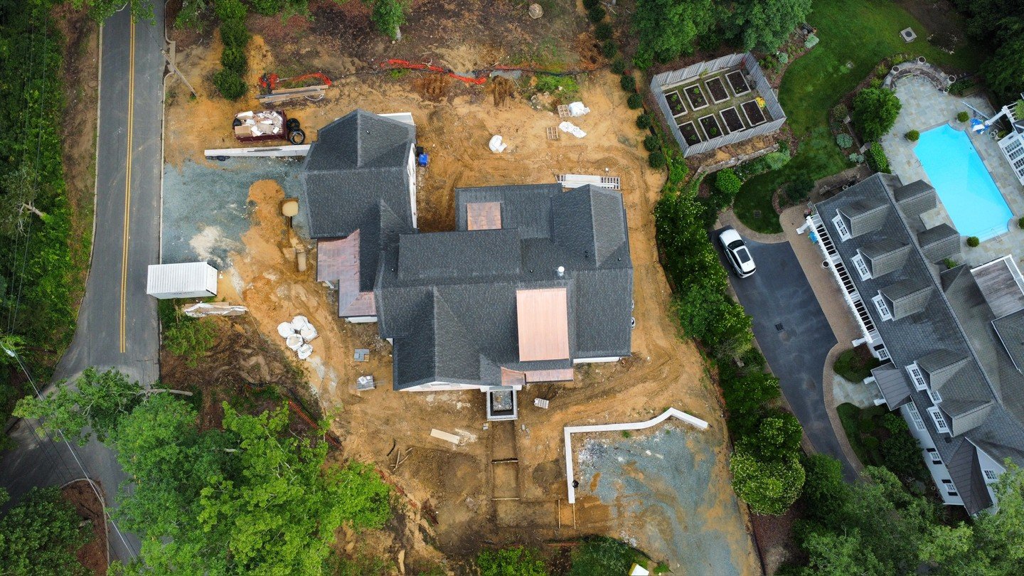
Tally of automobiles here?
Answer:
1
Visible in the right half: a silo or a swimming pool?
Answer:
swimming pool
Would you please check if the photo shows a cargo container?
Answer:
Yes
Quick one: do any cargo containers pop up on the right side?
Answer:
No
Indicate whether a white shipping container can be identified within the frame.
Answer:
Yes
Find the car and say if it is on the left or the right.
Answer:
right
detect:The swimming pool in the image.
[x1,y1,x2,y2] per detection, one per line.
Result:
[910,121,1017,247]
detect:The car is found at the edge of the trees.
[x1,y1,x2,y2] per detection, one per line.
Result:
[720,229,756,277]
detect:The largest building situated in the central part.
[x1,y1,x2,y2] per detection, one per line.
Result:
[298,106,636,392]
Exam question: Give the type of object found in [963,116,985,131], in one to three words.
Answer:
umbrella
